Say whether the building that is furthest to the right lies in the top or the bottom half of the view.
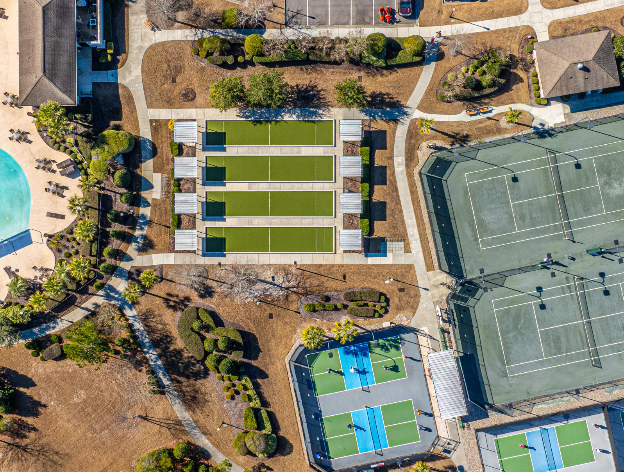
top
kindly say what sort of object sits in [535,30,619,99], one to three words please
building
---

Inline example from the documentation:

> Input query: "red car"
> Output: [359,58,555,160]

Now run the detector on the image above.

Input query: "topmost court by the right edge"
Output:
[421,115,624,278]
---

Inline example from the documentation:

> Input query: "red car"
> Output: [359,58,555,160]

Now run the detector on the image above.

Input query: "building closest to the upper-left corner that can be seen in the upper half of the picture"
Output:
[17,0,79,107]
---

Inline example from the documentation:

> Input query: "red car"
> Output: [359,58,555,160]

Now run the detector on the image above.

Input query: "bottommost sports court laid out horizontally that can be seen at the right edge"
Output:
[476,404,617,472]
